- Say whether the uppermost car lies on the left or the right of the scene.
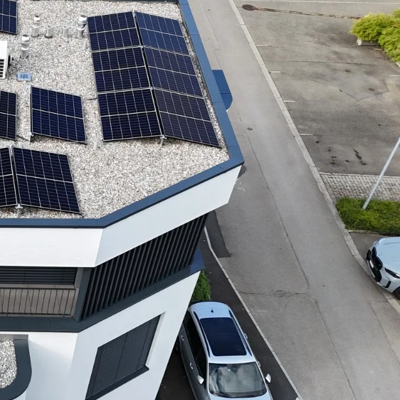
right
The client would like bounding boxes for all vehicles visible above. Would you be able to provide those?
[361,236,400,295]
[175,302,270,400]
